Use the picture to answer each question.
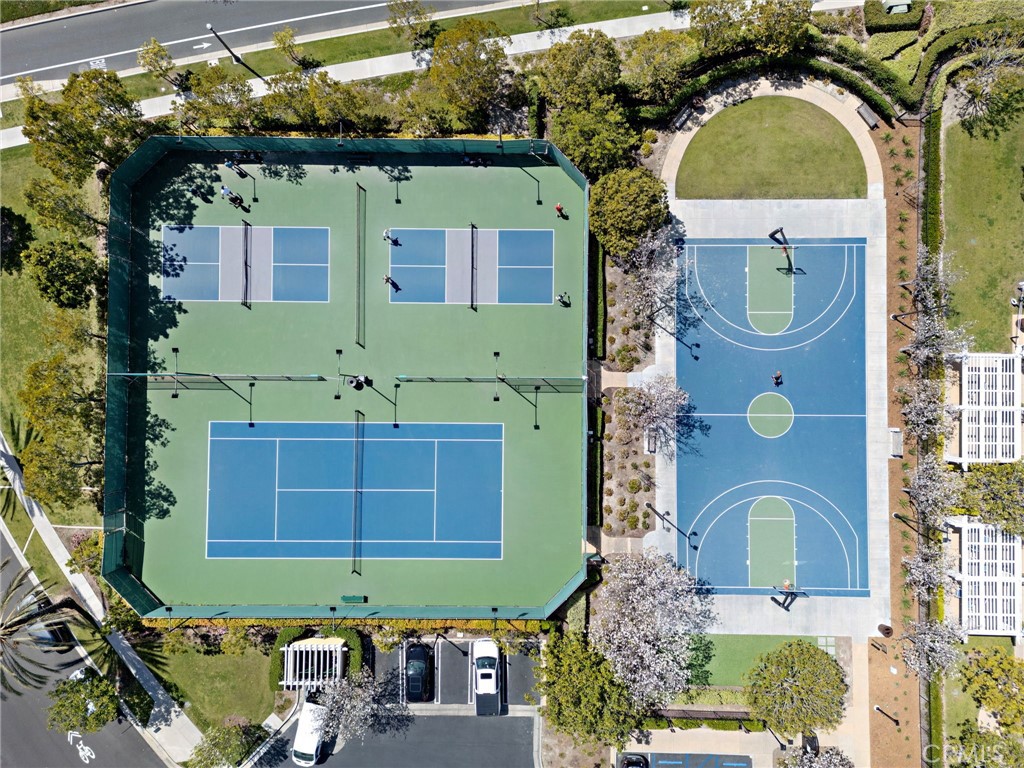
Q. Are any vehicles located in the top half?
No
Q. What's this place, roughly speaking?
sports ground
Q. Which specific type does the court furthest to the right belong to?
basketball court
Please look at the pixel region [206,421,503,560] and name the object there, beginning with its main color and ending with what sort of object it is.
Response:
blue tennis court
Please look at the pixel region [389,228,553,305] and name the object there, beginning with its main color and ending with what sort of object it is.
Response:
blue sports court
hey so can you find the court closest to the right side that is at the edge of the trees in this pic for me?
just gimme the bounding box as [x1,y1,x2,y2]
[676,238,870,597]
